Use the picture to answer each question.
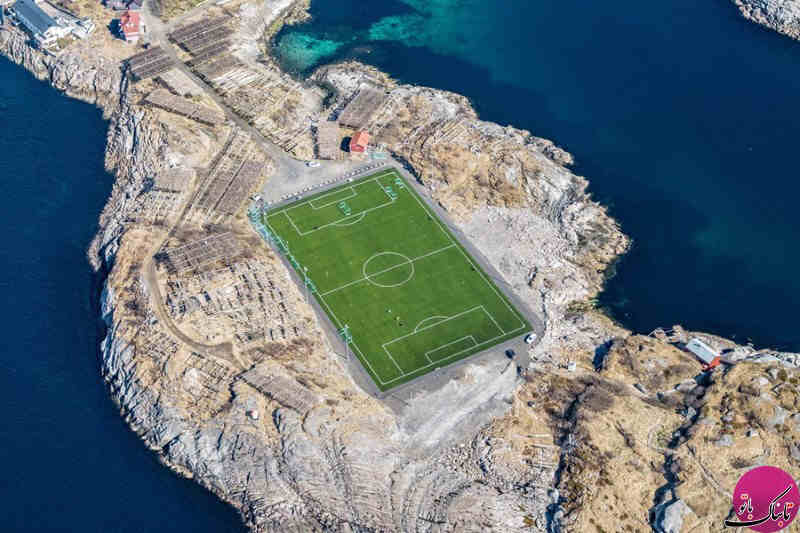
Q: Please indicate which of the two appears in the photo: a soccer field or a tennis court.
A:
soccer field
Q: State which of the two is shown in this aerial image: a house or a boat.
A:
house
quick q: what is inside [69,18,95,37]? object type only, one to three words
building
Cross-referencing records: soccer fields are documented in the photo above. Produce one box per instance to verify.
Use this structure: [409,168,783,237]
[261,166,532,391]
